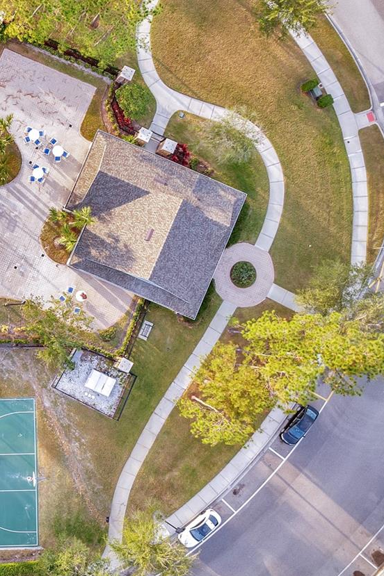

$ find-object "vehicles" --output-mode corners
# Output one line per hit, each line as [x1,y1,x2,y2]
[179,509,224,550]
[282,401,322,447]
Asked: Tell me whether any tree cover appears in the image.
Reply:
Yes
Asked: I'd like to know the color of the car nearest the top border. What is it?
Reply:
blue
